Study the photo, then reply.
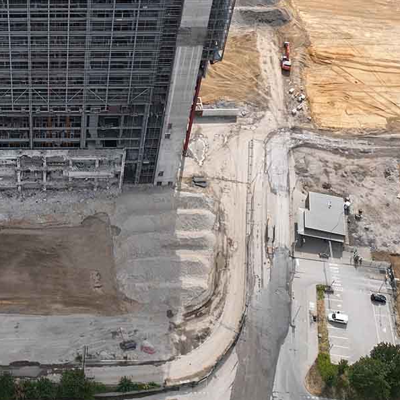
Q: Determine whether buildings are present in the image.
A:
Yes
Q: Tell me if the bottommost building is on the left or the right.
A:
right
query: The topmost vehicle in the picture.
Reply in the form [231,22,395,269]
[278,43,295,73]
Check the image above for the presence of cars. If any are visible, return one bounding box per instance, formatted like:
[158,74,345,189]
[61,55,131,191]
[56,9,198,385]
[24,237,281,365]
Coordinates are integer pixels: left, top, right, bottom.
[369,292,389,303]
[328,311,349,322]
